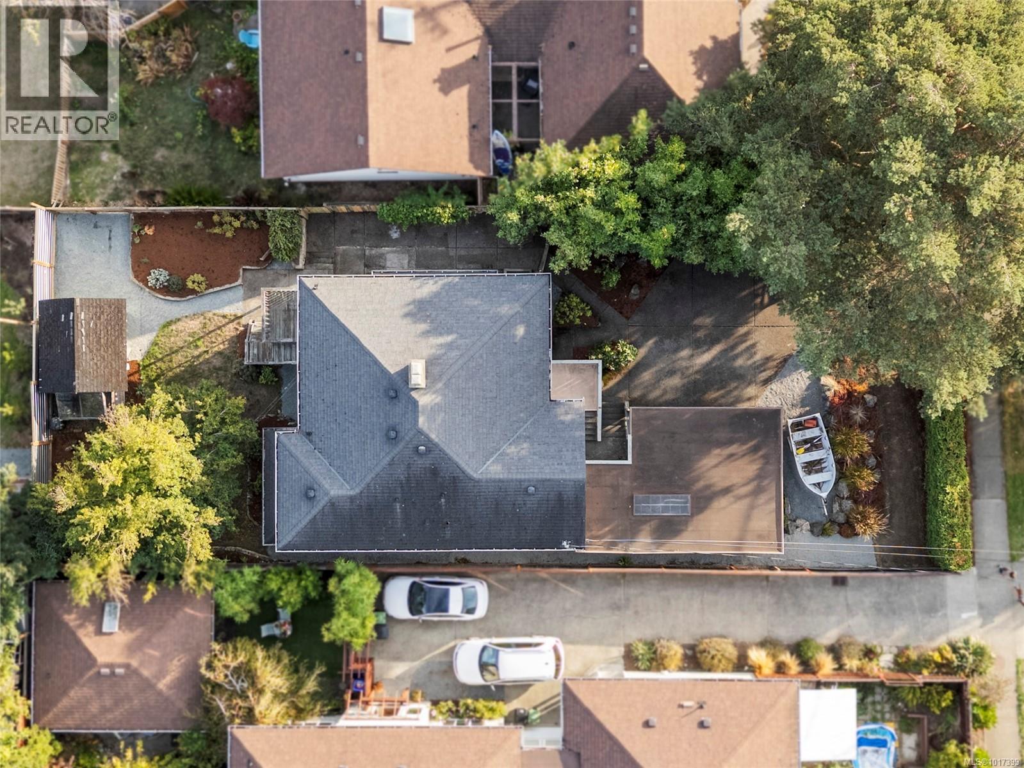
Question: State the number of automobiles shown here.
2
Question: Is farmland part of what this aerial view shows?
No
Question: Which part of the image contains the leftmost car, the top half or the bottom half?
bottom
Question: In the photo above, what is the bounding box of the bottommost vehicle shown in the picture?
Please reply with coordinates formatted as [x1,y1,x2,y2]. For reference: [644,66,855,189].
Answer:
[459,635,560,689]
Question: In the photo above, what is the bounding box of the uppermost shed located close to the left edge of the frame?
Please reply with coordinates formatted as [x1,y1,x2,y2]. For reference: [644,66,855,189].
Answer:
[37,297,131,392]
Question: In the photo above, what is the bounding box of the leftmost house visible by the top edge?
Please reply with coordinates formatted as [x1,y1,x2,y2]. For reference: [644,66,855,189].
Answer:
[257,0,495,182]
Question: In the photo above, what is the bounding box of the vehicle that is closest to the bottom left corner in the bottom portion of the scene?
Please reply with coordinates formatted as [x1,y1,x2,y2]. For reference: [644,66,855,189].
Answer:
[387,575,487,624]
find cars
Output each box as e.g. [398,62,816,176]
[387,575,487,624]
[459,635,560,689]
